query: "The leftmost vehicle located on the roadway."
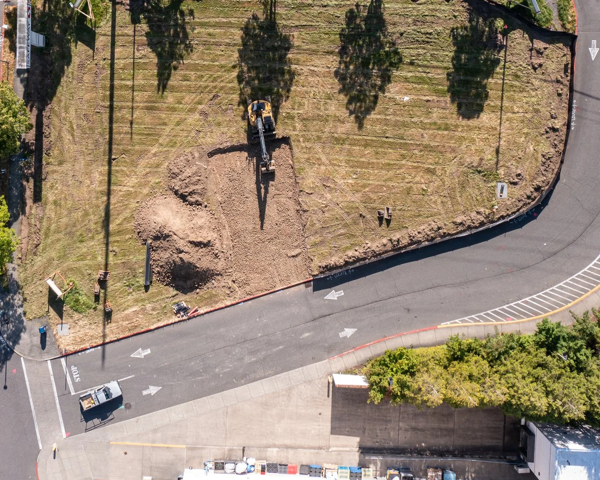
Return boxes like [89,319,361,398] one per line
[75,380,126,419]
